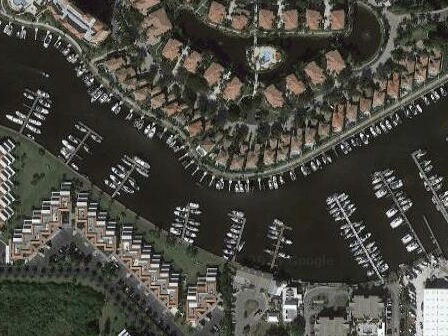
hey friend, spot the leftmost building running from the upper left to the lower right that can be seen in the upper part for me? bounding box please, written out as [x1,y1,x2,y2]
[47,0,106,48]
